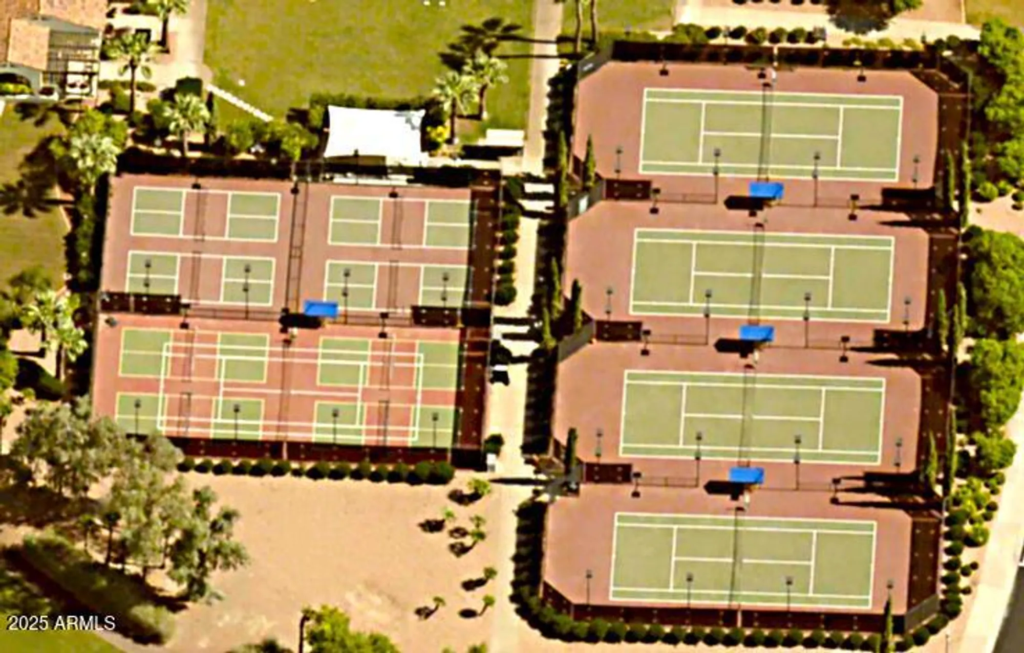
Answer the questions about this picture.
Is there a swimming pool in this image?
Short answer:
No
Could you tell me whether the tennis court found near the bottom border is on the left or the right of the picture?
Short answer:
right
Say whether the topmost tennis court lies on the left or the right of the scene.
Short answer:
right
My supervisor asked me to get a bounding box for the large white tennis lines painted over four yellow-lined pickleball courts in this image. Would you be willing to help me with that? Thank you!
[89,313,490,470]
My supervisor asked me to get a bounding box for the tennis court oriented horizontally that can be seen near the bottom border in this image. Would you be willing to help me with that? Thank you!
[541,483,944,638]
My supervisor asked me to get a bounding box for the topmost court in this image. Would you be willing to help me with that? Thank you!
[572,59,969,210]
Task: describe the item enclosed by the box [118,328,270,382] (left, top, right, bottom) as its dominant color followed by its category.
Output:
yellow sports court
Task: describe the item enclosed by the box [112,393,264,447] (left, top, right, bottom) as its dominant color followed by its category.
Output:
yellow sports court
